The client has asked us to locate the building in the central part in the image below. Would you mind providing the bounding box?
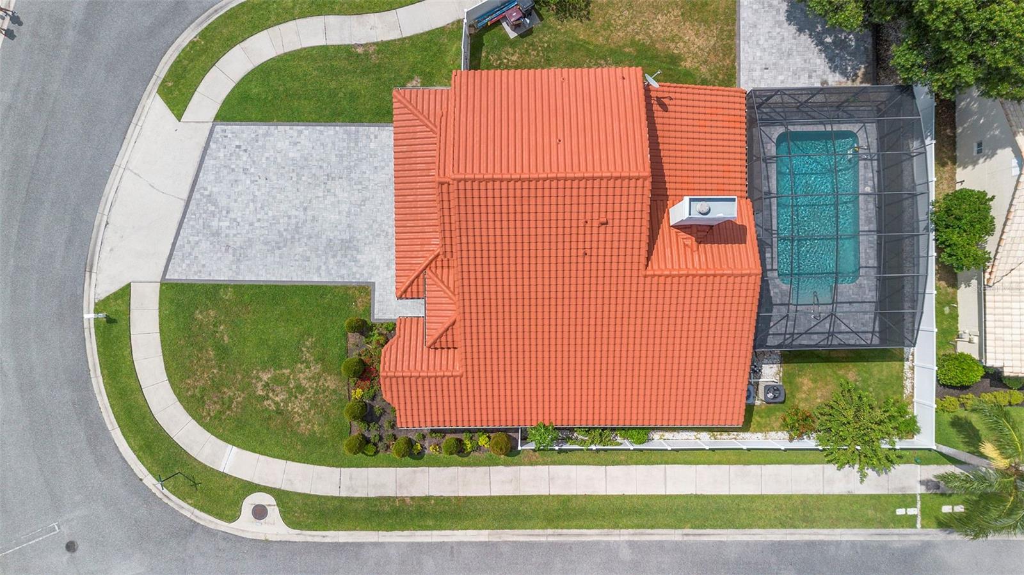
[379,65,765,429]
